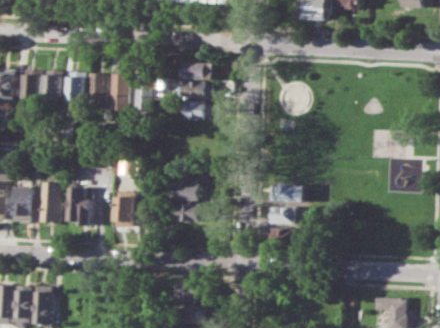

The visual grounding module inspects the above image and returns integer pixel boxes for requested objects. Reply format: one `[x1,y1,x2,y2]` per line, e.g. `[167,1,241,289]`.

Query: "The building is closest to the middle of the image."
[176,185,203,202]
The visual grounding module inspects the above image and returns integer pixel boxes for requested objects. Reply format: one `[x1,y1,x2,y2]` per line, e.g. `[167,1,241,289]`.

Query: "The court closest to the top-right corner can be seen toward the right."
[372,130,414,159]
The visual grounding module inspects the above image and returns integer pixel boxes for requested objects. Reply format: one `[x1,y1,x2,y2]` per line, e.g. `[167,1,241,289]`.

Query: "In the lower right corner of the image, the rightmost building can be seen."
[377,296,410,328]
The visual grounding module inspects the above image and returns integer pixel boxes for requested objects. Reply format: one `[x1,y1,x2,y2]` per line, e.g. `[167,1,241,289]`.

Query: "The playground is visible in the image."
[388,159,423,192]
